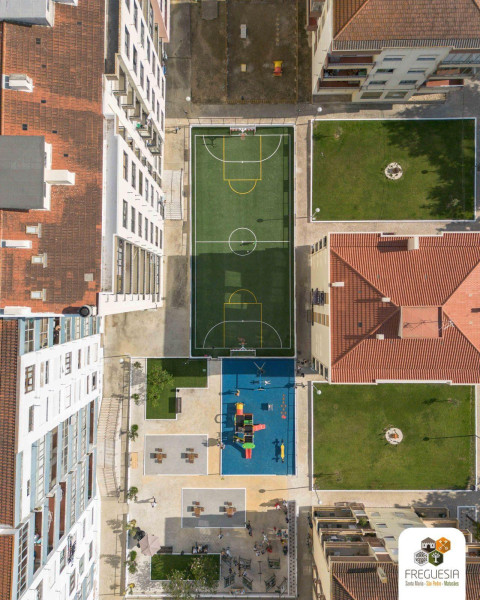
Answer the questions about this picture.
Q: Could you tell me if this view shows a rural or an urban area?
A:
urban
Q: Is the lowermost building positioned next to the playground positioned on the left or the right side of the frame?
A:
right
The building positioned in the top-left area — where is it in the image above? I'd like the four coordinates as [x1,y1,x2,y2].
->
[0,0,171,316]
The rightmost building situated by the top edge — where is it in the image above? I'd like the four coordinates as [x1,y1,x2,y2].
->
[311,0,480,116]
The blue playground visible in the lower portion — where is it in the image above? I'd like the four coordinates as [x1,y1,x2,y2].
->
[221,358,295,475]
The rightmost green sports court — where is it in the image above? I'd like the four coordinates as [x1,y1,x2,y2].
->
[190,123,295,358]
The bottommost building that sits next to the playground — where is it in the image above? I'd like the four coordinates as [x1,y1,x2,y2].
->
[311,504,480,600]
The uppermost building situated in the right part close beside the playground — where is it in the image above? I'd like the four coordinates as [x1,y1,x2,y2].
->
[312,229,480,387]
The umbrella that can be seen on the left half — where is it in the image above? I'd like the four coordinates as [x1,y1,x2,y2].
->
[135,538,156,563]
